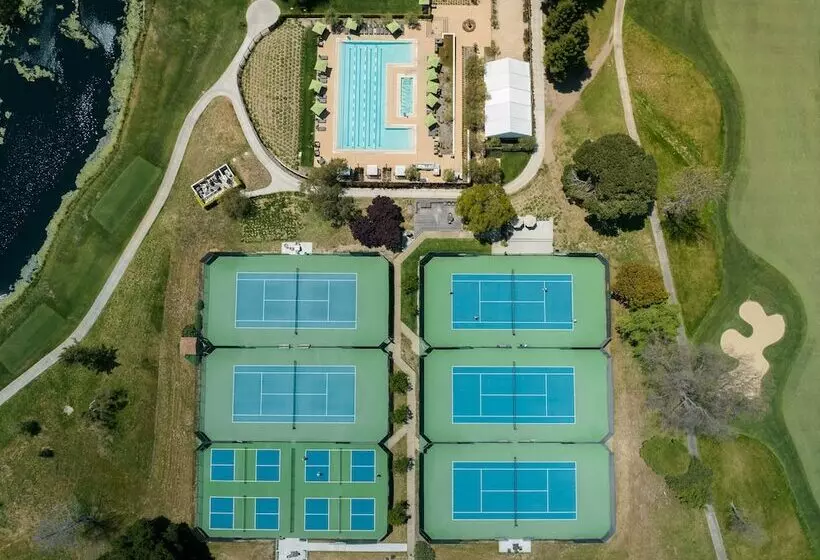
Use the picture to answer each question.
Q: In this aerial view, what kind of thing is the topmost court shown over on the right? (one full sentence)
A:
The topmost court shown over on the right in the image is a tennis court.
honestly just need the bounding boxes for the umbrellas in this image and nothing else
[510,216,524,229]
[428,55,440,67]
[426,79,440,92]
[424,92,439,107]
[425,66,439,79]
[309,79,322,92]
[344,18,358,31]
[424,113,438,127]
[312,22,327,35]
[524,215,537,229]
[316,60,328,71]
[312,102,325,116]
[386,19,400,34]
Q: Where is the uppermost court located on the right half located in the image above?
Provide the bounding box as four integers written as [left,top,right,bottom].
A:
[420,255,607,348]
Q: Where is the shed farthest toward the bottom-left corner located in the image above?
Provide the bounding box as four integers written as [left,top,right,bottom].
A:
[180,338,200,355]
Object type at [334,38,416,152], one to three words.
swimming pool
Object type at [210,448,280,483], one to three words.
sports court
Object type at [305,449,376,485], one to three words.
sports court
